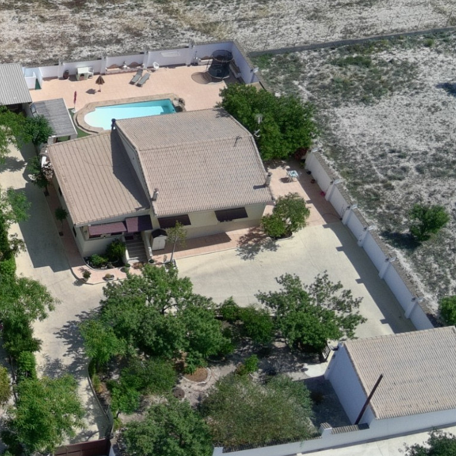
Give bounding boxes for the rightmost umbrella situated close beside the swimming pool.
[93,73,108,94]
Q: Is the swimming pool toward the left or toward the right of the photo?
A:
left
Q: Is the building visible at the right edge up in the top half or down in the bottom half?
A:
bottom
